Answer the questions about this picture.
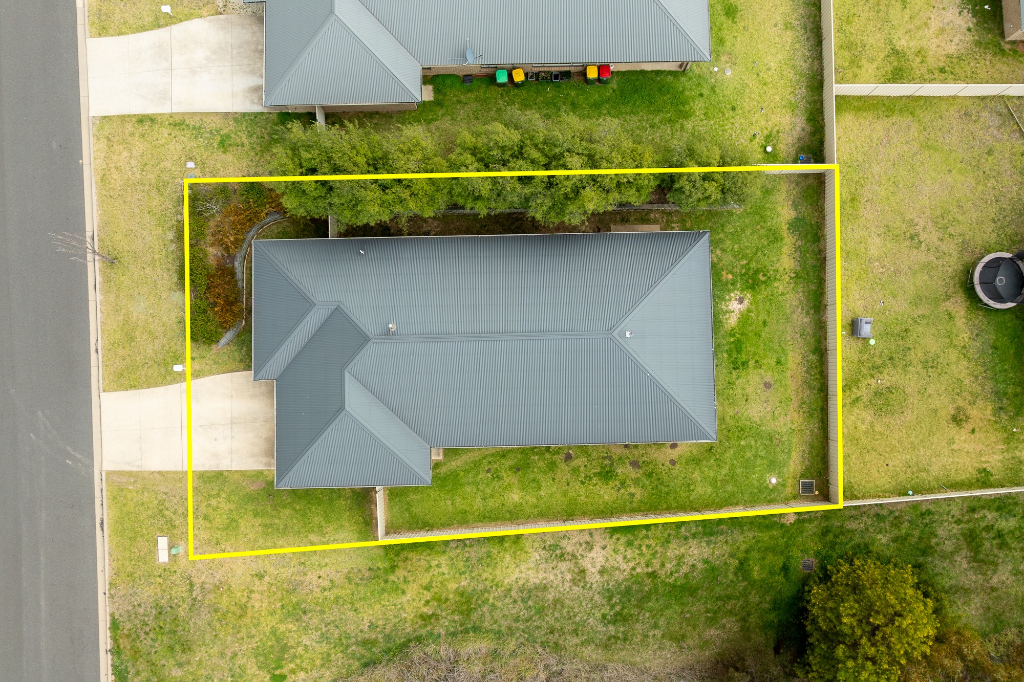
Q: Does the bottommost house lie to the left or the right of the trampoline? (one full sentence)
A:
The trampoline has the bottommost house on its left side.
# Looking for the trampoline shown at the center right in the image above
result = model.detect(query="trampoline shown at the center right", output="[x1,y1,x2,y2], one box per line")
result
[963,251,1024,312]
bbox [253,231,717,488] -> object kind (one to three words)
house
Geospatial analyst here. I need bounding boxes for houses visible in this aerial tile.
[259,0,711,113]
[253,231,717,488]
[1002,0,1024,40]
